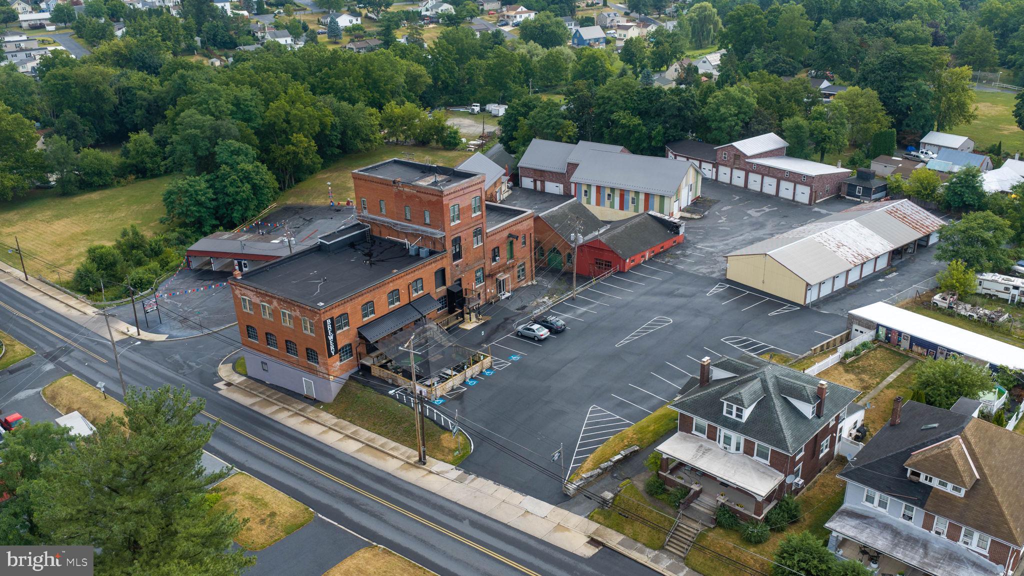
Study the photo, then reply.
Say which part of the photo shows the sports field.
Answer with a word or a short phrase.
top right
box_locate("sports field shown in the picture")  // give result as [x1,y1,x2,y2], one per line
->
[956,91,1024,163]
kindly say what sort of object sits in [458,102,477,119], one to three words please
vehicle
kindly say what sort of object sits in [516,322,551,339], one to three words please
car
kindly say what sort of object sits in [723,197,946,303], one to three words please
building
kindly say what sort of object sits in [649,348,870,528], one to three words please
house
